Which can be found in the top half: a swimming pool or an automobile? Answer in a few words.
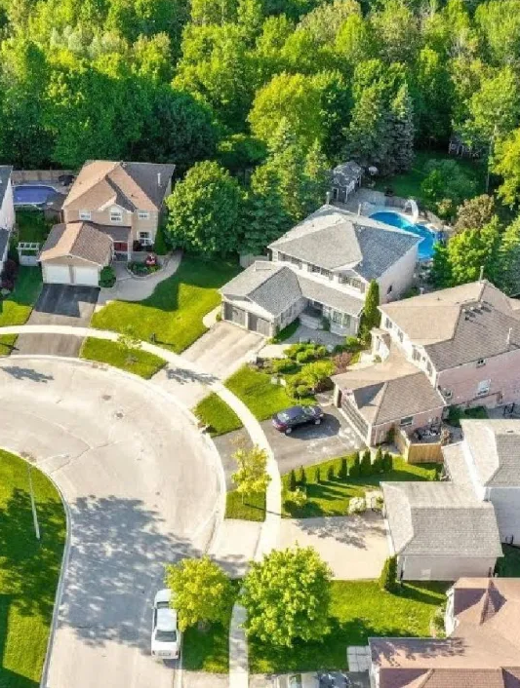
swimming pool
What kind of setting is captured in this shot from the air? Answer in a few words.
residential area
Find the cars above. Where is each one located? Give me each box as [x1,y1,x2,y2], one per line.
[273,398,330,430]
[279,672,357,688]
[150,591,181,655]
